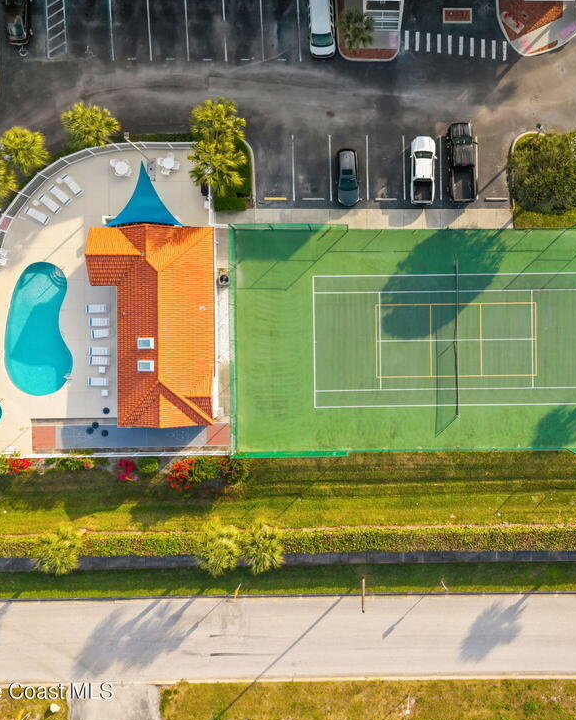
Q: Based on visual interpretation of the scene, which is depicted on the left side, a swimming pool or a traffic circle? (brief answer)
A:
swimming pool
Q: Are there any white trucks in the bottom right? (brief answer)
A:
No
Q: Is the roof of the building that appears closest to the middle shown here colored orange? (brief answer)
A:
Yes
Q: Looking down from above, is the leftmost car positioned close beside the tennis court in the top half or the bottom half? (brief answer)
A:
top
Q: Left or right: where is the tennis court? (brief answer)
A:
right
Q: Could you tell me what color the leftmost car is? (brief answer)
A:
black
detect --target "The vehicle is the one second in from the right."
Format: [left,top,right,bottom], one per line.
[409,136,438,205]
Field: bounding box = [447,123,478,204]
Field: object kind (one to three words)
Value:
truck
